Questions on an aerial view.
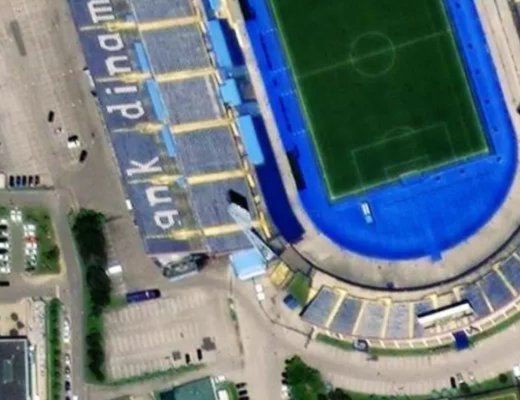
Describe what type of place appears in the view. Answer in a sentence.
It's a sports ground.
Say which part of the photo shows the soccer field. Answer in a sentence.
The soccer field appears toward the top right of the photo.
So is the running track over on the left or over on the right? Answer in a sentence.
The running track appears in the right half of the scene.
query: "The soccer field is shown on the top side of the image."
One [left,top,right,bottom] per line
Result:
[269,0,494,203]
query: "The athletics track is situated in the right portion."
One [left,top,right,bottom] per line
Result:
[238,0,519,264]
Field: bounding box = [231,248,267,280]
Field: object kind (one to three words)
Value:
building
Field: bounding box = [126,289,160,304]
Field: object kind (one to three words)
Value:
vehicle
